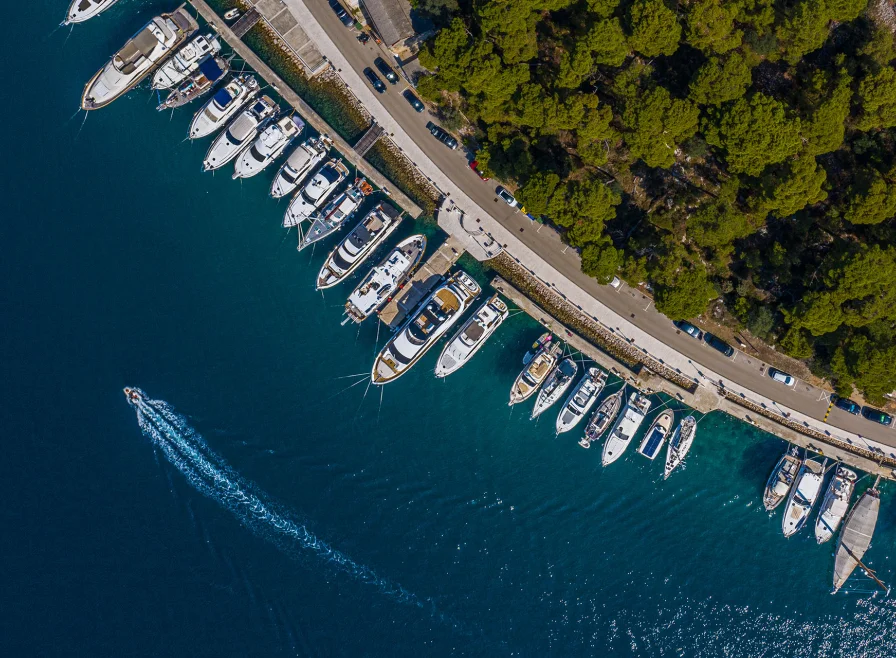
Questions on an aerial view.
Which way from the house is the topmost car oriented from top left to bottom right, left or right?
left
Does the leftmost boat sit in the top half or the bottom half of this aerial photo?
top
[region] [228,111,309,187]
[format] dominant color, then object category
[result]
white boat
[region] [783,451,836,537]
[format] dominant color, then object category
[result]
white boat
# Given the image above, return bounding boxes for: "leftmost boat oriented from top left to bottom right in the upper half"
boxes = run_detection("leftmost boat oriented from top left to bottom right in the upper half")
[245,74,258,88]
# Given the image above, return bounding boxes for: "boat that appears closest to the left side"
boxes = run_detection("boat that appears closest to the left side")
[58,0,124,38]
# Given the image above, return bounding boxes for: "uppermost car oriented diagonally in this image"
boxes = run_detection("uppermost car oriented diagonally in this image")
[330,0,353,24]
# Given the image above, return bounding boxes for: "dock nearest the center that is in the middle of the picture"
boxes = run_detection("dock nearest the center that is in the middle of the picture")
[378,235,466,326]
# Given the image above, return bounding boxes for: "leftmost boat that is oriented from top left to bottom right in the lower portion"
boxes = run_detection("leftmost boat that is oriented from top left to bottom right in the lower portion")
[125,388,141,404]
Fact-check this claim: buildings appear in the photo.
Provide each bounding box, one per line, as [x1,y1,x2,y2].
[360,0,415,49]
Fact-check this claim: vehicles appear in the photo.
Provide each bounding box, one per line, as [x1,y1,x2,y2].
[365,68,387,94]
[376,59,399,85]
[330,0,353,24]
[403,90,425,114]
[497,187,520,209]
[358,35,369,40]
[676,319,701,340]
[832,396,859,412]
[704,334,732,355]
[429,122,456,149]
[769,368,794,385]
[862,406,890,424]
